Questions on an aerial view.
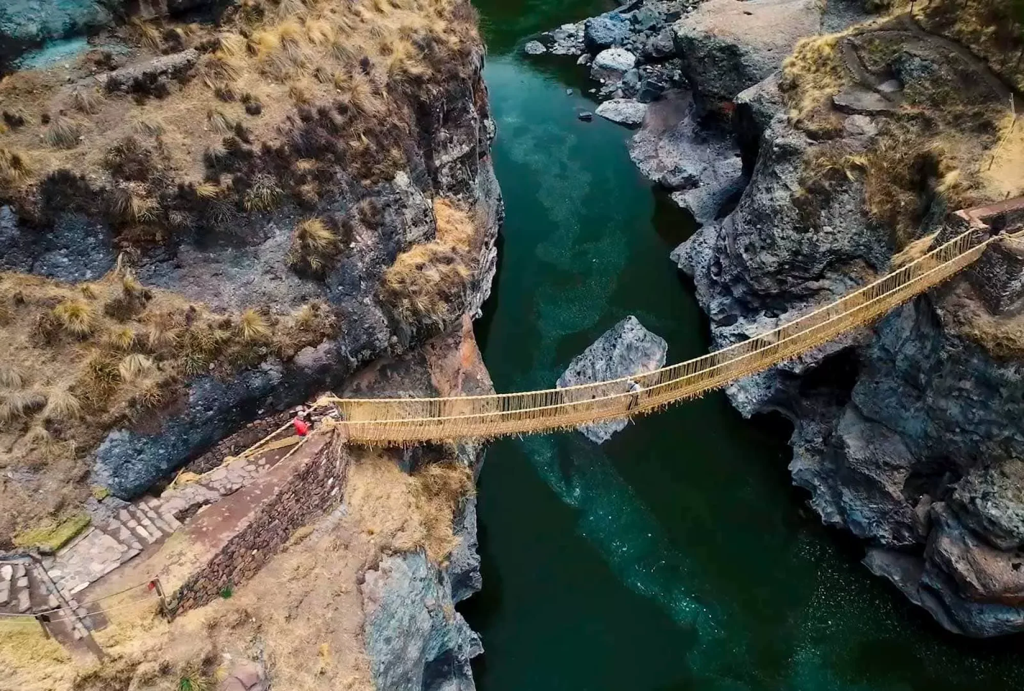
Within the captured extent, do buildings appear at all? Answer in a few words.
No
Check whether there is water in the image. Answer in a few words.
Yes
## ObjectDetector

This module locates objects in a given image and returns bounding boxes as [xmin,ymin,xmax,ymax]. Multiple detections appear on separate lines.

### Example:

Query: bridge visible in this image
[185,212,1024,490]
